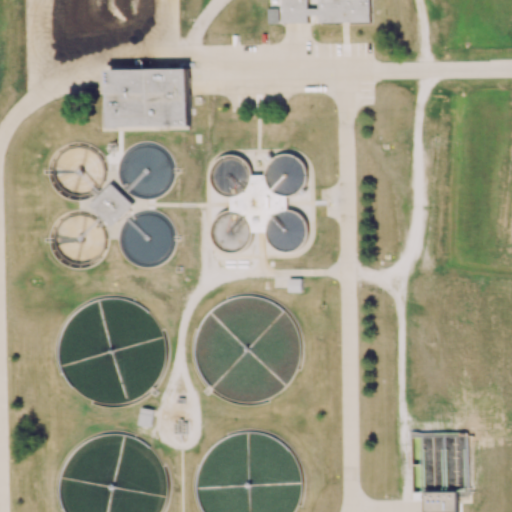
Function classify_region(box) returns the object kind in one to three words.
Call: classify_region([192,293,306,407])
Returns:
storage tank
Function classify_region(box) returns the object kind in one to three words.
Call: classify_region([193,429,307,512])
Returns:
storage tank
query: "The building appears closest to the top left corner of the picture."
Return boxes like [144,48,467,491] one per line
[102,68,190,129]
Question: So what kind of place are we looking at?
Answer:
industrial area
